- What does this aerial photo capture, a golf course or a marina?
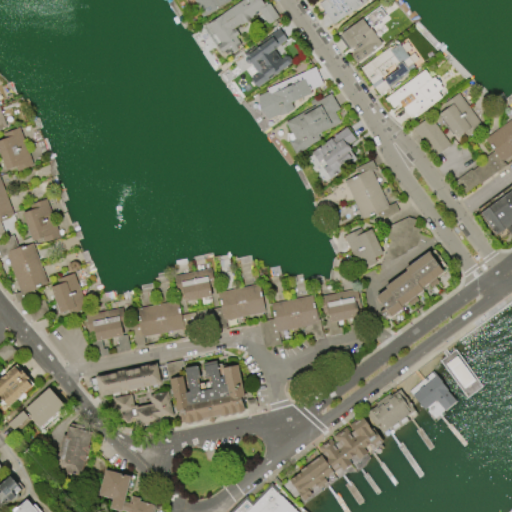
marina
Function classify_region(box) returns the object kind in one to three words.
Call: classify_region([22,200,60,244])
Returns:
house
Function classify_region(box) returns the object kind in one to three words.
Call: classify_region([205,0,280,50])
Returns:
building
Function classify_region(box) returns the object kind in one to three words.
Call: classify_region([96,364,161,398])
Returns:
building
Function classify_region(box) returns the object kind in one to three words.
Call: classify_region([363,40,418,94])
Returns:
house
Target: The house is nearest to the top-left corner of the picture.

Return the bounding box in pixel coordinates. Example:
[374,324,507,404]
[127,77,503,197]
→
[0,128,34,174]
